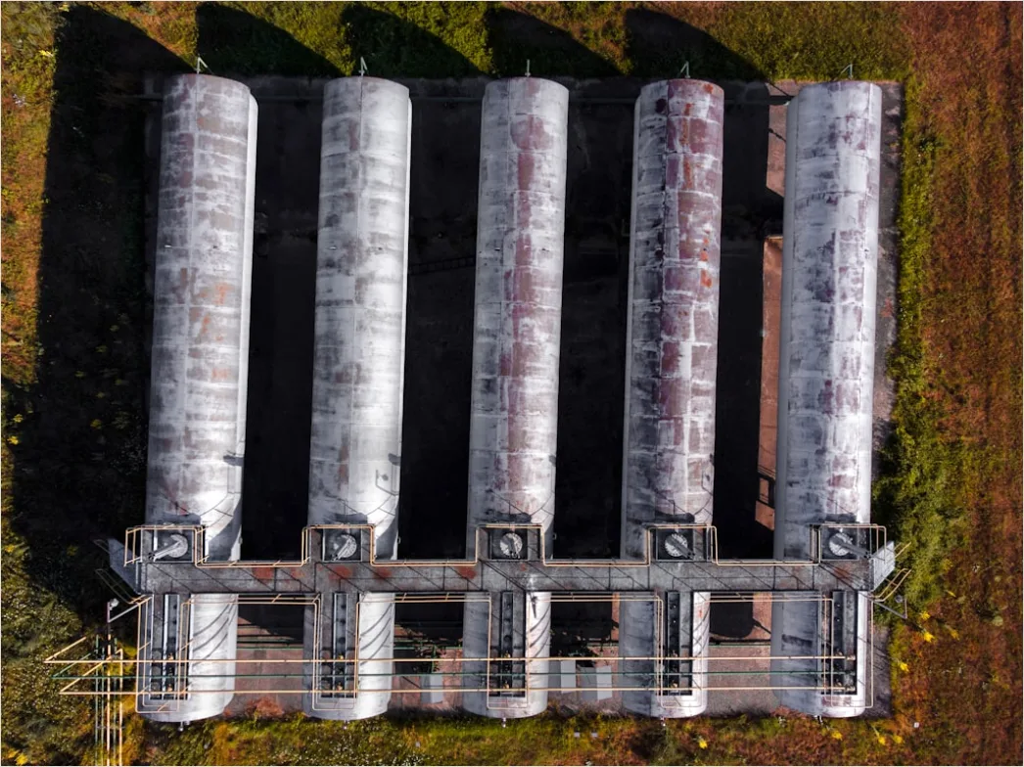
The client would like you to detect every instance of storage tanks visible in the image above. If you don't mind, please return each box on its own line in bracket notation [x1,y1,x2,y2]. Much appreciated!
[768,65,882,721]
[302,61,413,724]
[131,59,267,725]
[620,64,725,722]
[461,63,568,723]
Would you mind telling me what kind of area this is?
industrial area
